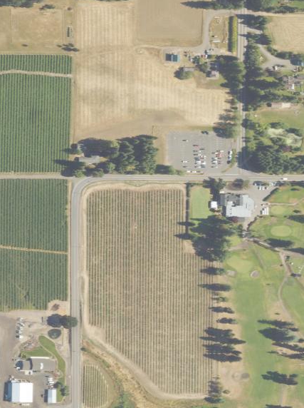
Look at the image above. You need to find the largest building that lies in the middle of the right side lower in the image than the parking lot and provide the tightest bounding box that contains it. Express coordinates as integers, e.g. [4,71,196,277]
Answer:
[224,195,255,216]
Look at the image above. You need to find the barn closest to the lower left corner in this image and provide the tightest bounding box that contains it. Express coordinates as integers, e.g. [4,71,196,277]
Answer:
[9,383,32,402]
